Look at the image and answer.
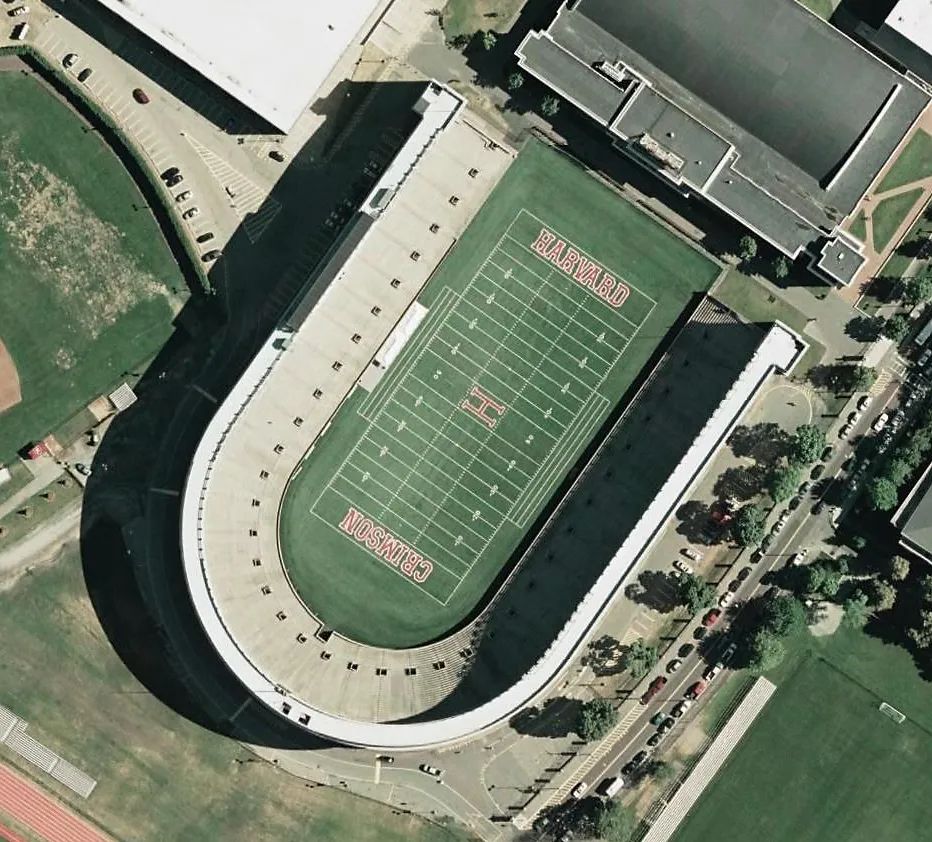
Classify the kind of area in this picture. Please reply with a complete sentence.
The area seen from above is a sports ground.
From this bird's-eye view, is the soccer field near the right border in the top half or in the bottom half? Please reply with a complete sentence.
It is in the bottom half that the soccer field near the right border appears.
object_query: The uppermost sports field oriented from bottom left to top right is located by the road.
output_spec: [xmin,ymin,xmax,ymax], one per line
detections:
[279,135,726,649]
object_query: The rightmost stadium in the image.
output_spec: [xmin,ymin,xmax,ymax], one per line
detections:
[182,80,809,746]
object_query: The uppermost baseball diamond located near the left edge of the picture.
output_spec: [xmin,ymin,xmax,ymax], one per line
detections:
[0,53,206,456]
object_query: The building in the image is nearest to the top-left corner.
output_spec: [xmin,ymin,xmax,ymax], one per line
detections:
[98,0,387,134]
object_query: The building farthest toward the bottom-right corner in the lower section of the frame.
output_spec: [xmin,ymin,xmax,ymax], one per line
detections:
[893,471,932,564]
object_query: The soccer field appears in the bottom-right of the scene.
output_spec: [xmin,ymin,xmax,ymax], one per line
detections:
[663,655,932,842]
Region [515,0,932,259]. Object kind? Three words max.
building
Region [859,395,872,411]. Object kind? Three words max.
vehicle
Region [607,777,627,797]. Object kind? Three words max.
vehicle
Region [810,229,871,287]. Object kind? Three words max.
building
